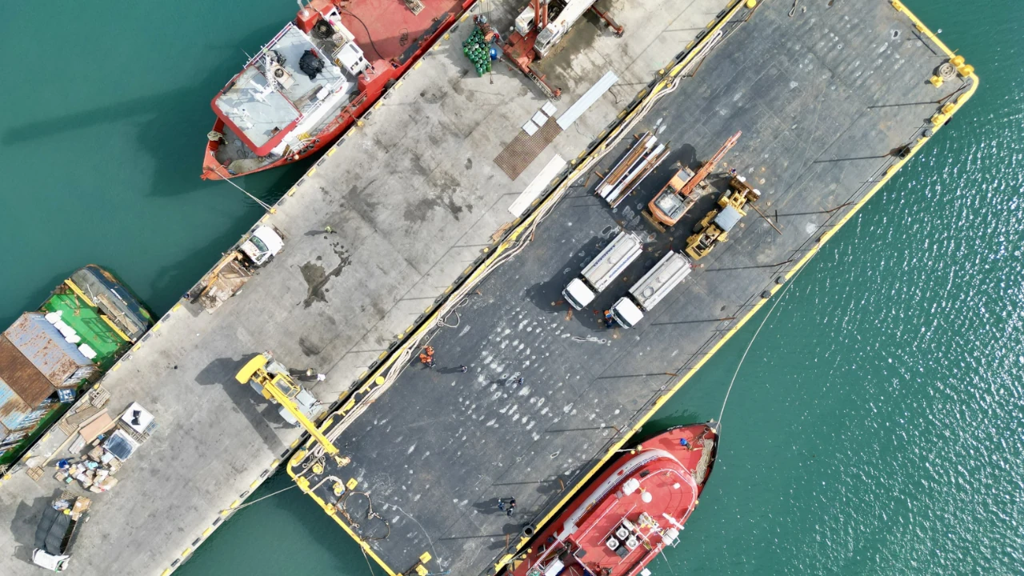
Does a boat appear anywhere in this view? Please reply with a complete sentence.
Yes, there's a boat down there.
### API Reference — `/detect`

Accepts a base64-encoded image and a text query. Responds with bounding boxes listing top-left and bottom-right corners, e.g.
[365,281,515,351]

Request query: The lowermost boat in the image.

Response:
[493,422,724,576]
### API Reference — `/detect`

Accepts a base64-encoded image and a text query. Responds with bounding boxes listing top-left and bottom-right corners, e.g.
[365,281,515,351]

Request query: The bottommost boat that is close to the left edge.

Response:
[0,266,155,477]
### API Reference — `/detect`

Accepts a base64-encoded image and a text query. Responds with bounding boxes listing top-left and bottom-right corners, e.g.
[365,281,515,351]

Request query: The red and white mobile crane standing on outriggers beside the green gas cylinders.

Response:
[474,0,624,103]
